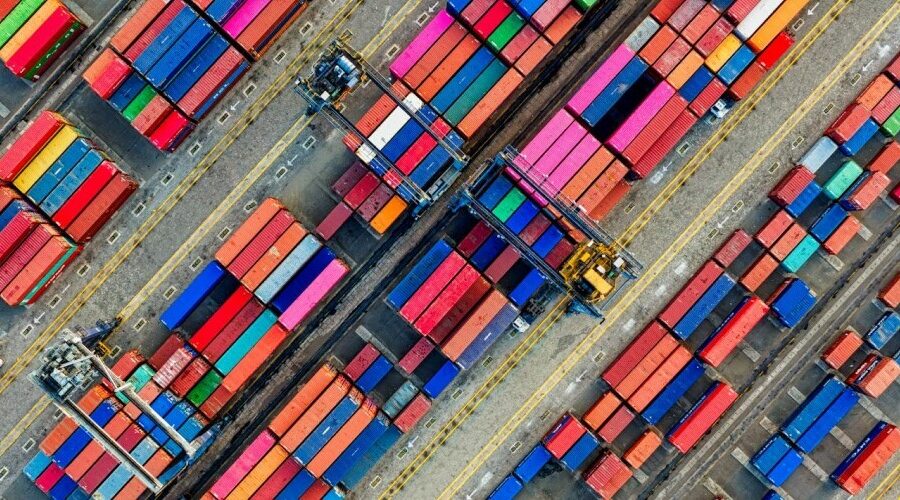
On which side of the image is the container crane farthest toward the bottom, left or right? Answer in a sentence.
You can find the container crane farthest toward the bottom on the left side of the picture.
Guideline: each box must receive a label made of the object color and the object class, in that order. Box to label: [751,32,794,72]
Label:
red shipping container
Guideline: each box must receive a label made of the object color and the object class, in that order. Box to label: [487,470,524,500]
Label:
blue shipping container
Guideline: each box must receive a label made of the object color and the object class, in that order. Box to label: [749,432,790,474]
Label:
blue shipping container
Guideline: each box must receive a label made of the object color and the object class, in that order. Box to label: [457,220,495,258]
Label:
red shipping container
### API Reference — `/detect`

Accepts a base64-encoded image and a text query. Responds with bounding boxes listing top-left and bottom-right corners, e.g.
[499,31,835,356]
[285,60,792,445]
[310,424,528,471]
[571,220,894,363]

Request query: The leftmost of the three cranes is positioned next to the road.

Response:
[11,308,239,500]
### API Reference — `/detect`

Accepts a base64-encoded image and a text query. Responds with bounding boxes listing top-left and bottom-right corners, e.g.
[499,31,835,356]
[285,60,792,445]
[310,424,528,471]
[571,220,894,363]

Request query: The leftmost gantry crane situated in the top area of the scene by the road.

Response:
[286,34,477,221]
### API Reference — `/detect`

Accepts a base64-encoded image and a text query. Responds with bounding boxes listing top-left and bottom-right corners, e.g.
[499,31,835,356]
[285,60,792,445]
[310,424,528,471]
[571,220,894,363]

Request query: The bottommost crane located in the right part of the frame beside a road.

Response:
[446,131,655,324]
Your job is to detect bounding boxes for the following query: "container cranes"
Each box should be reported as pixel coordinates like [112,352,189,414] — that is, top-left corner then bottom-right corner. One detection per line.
[446,131,655,324]
[286,34,477,221]
[11,308,239,500]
